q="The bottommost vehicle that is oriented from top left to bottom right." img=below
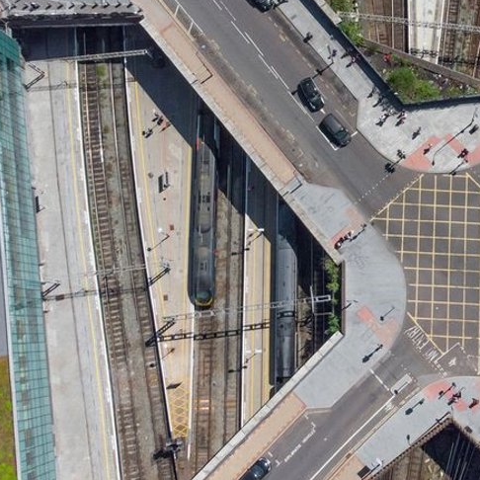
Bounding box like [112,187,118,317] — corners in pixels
[320,113,352,150]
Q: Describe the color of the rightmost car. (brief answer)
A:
black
